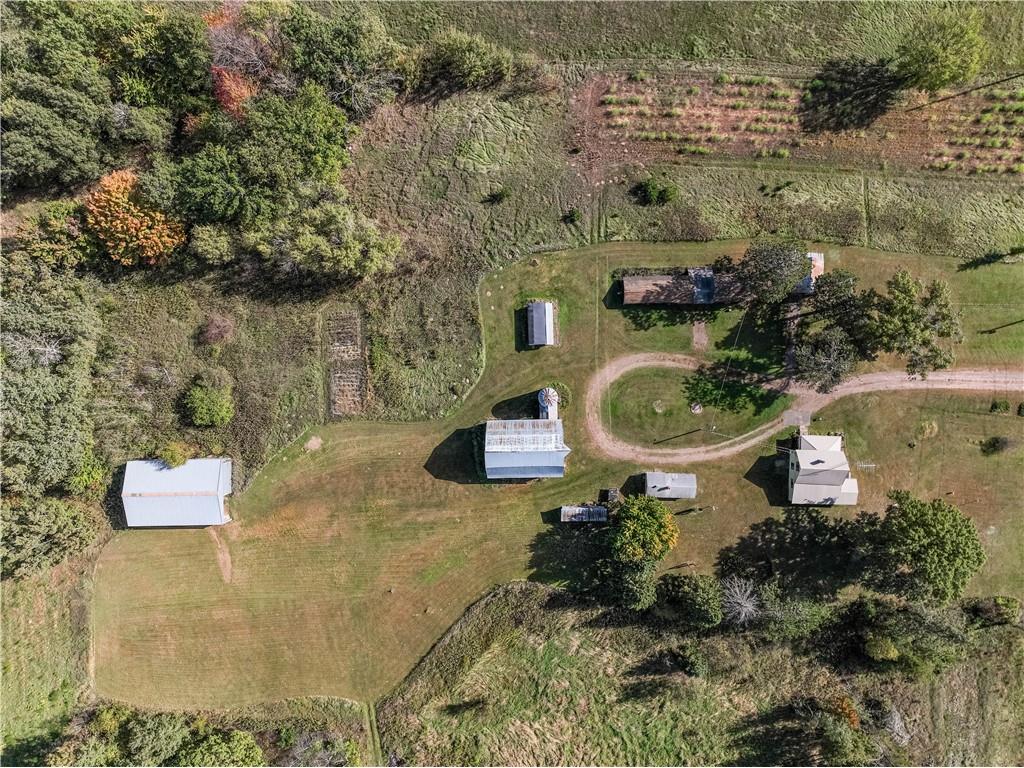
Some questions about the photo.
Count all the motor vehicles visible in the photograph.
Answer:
none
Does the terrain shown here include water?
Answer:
No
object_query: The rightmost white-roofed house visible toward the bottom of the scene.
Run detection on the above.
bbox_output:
[779,435,859,505]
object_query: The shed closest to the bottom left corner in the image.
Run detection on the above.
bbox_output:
[122,459,236,526]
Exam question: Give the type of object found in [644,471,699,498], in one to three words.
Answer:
building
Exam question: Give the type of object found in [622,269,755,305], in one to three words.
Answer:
shed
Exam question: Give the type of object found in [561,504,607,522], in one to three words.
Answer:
shed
